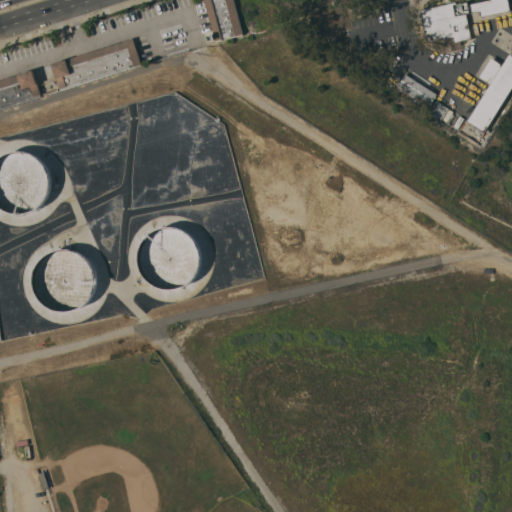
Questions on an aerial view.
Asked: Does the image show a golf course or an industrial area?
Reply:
industrial area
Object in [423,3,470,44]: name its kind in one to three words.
building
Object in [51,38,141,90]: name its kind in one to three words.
building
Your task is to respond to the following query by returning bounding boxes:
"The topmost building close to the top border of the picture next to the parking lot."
[204,0,242,40]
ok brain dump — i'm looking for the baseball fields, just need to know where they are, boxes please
[21,349,246,512]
